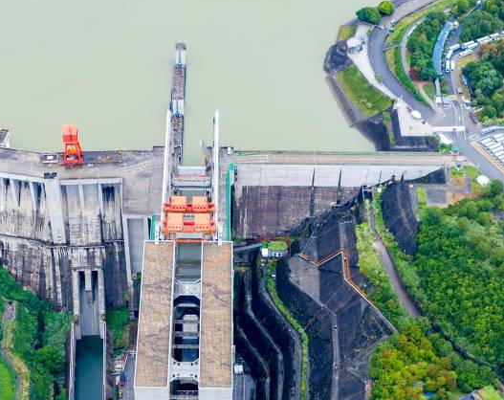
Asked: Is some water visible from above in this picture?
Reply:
Yes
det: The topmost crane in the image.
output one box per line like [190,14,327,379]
[59,118,85,165]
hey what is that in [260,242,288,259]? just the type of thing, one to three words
building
